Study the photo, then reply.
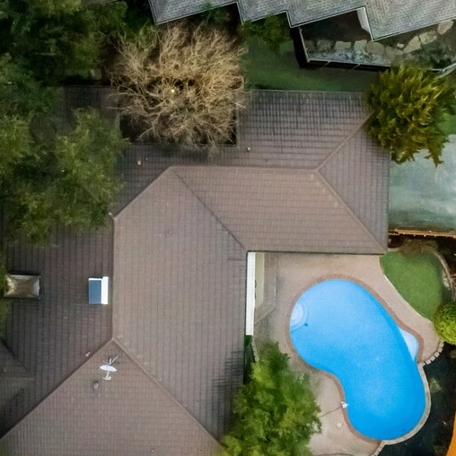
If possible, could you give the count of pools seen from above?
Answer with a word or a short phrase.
1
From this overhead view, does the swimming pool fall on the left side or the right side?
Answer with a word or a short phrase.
right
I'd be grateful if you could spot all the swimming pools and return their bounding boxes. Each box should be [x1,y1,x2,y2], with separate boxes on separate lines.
[285,275,431,445]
